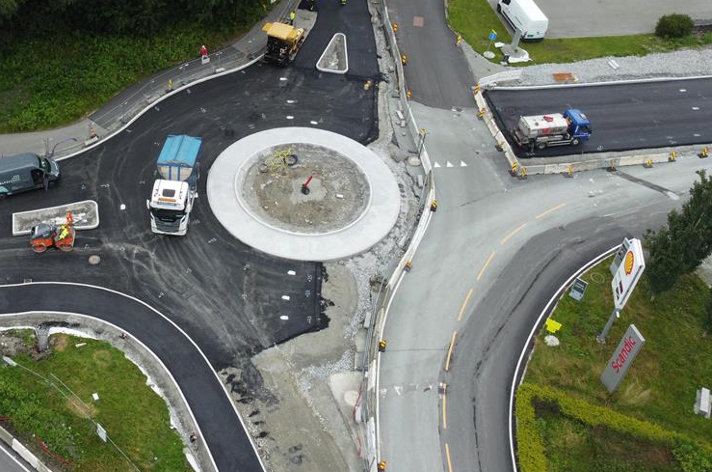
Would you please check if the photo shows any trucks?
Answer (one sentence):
Yes, the image includes a truck.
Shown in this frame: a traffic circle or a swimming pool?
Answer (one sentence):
Looking from above, you can make out a traffic circle.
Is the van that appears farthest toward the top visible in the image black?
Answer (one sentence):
No, the van that appears farthest toward the top is white.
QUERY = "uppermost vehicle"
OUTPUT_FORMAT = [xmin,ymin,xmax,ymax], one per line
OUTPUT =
[498,0,546,42]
